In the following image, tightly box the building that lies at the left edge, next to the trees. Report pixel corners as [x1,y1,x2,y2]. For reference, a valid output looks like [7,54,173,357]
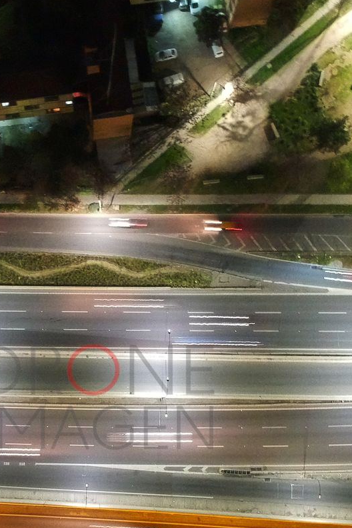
[0,58,86,126]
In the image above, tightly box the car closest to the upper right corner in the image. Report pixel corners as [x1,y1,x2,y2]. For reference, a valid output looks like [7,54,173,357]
[210,40,224,61]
